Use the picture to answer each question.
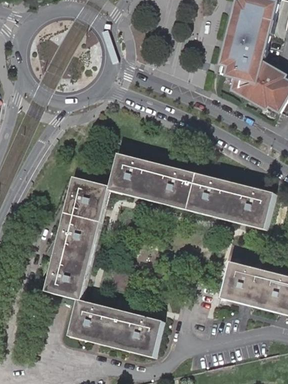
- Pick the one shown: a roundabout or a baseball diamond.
roundabout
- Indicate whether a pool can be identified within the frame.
No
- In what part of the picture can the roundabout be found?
top left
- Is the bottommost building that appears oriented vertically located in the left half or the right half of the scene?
left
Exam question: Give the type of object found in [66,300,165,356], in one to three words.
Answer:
building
